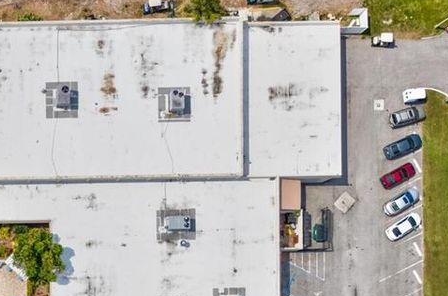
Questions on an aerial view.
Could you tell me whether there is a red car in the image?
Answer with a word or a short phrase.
Yes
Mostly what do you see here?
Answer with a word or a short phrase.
buildings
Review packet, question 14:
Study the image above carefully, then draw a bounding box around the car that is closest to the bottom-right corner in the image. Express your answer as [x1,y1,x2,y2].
[383,213,423,242]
